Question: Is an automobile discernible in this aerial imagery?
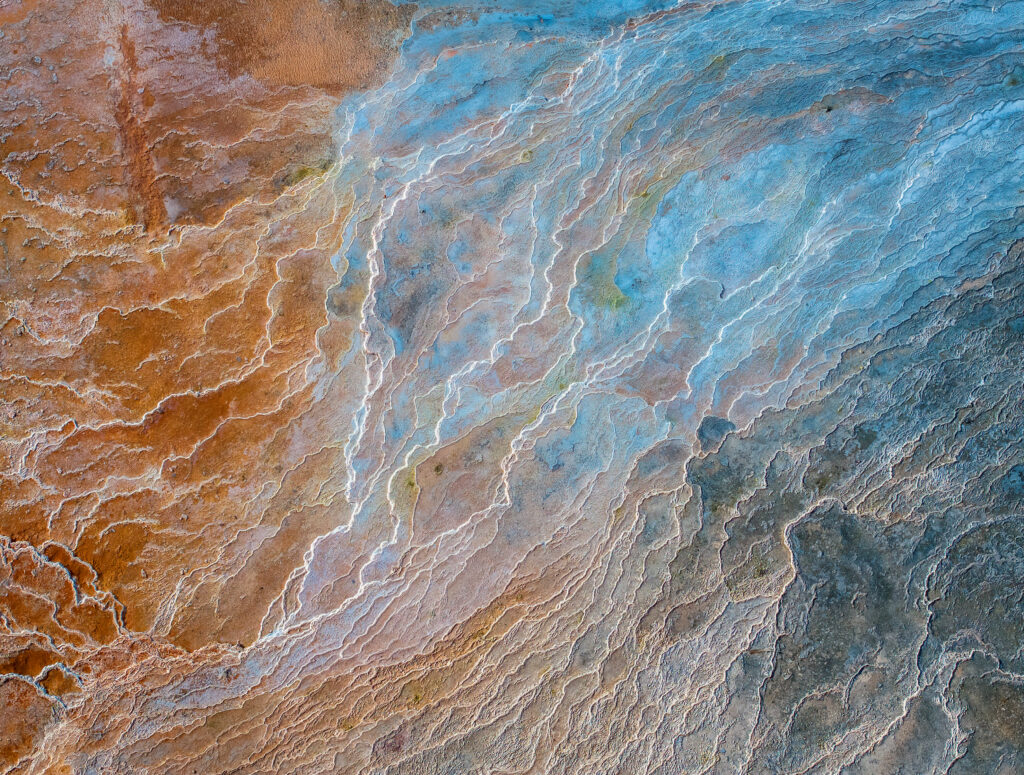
No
